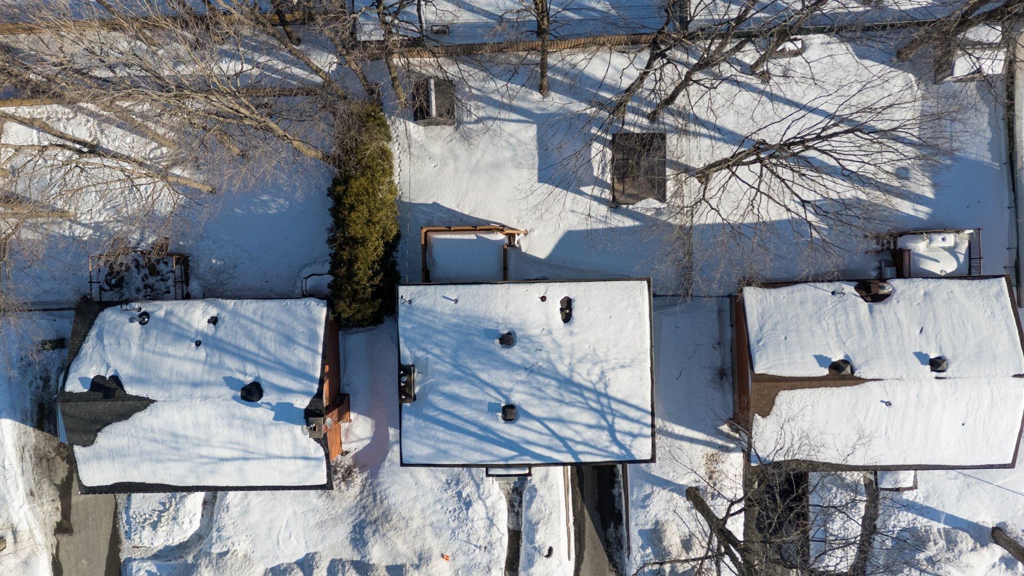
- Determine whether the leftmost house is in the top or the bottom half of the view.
bottom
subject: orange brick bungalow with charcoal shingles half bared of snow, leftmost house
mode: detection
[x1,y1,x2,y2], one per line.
[58,298,347,496]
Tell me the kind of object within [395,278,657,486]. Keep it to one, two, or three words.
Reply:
house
